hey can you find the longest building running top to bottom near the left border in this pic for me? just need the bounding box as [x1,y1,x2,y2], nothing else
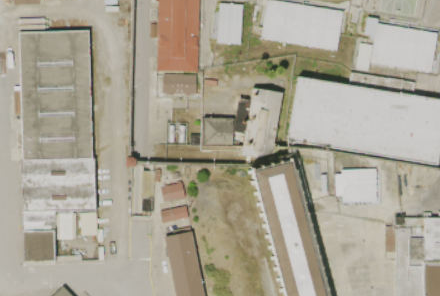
[20,30,96,210]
